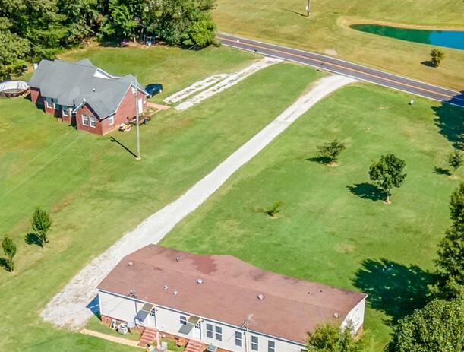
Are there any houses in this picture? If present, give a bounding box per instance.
[26,58,148,134]
[95,243,371,352]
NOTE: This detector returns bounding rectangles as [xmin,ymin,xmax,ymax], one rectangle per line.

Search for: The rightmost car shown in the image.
[142,81,170,96]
